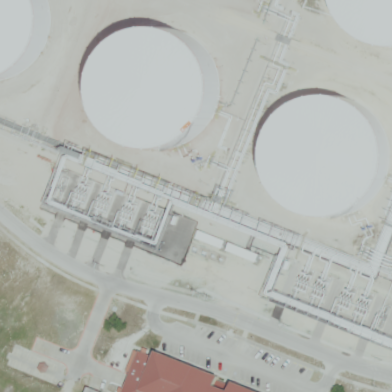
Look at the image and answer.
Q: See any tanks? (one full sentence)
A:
Yes, looking at the shot, I can spot a tank.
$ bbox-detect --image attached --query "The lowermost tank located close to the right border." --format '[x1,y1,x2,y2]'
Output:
[254,92,390,218]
